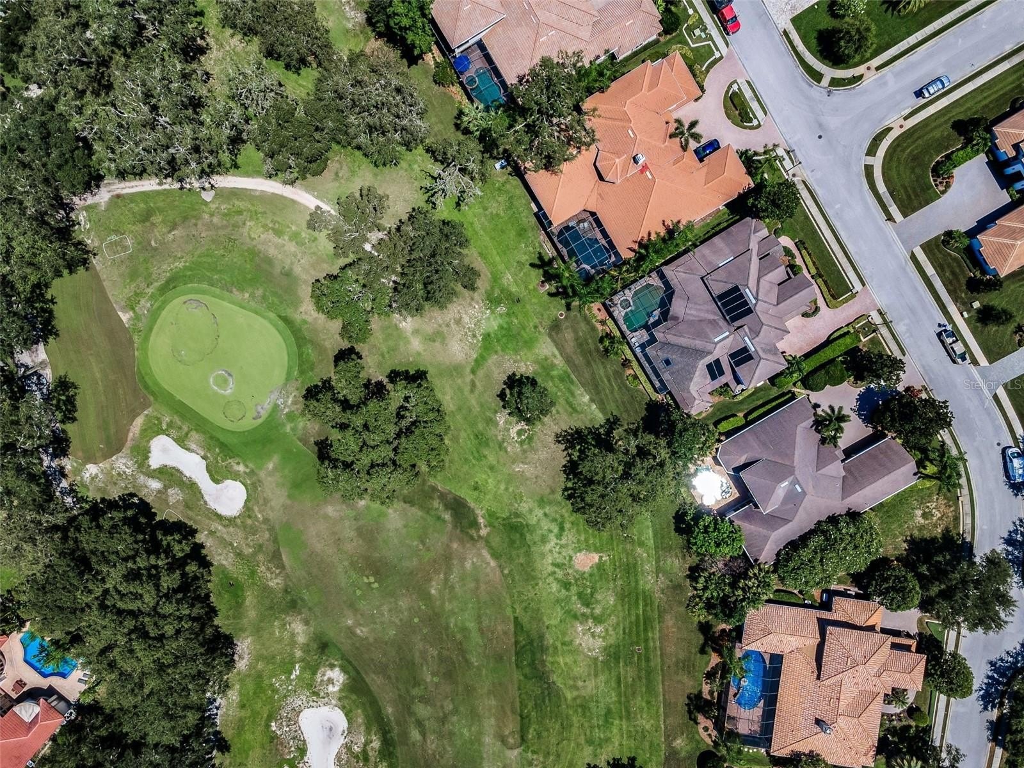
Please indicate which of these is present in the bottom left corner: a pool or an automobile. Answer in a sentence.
Visible in the bottom left corner is a pool.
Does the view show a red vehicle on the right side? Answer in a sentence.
Yes, a red vehicle appears on the right side.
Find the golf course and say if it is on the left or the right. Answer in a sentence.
You can find the golf course on the left side of the picture.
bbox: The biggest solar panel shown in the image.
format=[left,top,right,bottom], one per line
[716,284,754,323]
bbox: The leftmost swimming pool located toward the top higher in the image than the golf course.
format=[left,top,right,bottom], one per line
[465,66,507,105]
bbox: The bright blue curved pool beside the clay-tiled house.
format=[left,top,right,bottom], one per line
[731,650,767,711]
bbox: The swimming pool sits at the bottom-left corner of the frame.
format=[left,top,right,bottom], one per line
[20,632,72,679]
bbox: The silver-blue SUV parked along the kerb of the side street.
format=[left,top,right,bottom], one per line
[910,74,952,104]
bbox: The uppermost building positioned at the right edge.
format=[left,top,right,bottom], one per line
[981,110,1024,200]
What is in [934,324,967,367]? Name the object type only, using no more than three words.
truck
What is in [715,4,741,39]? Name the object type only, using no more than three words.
car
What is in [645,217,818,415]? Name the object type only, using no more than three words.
house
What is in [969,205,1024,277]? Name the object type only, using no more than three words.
house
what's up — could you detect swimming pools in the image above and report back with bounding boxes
[618,283,666,333]
[691,465,733,506]
[731,650,767,711]
[465,66,507,105]
[20,632,72,679]
[556,224,612,284]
